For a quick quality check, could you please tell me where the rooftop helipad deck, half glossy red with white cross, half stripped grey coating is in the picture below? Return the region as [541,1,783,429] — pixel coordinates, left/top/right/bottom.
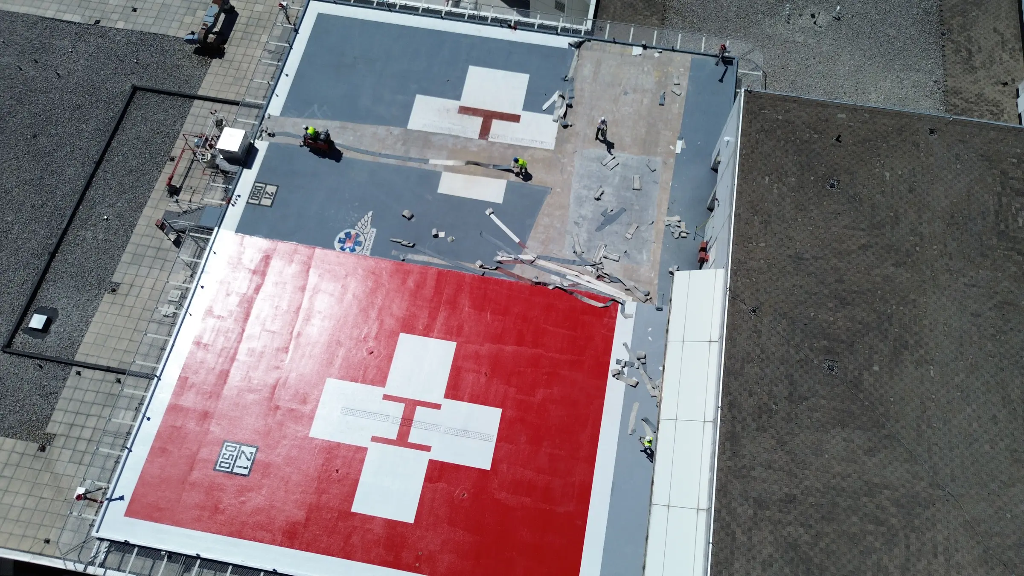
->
[87,0,740,576]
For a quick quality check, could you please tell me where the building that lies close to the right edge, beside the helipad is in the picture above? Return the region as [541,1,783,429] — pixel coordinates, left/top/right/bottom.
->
[640,89,1024,576]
